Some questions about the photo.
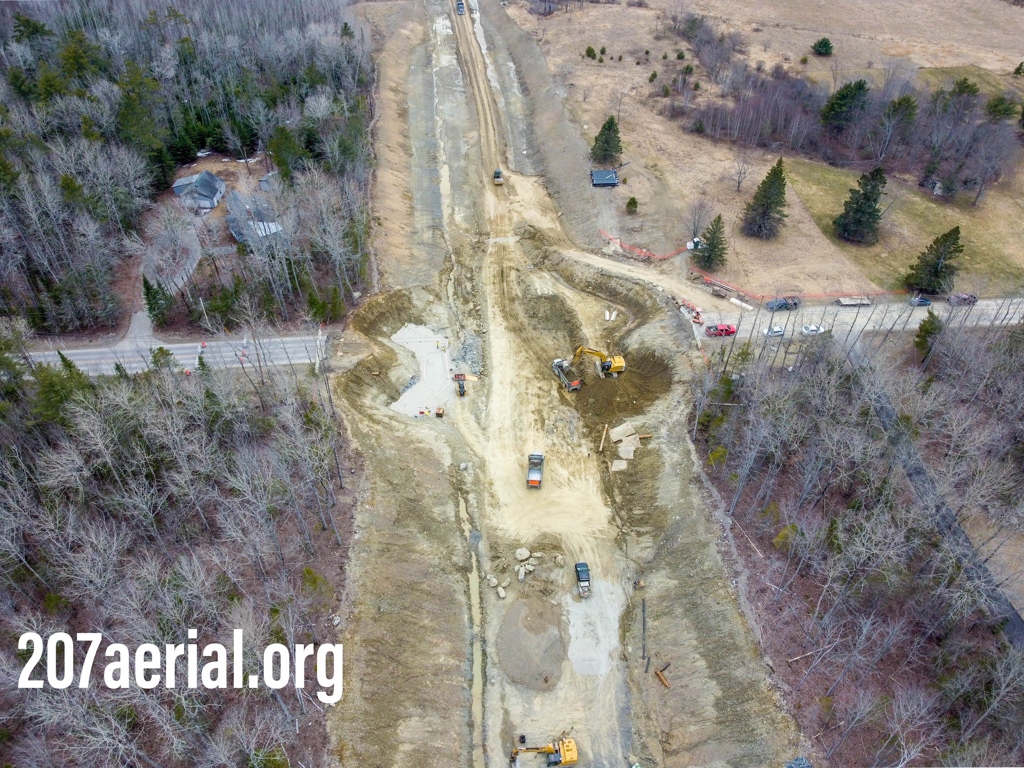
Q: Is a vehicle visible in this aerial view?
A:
Yes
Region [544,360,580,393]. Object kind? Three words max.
truck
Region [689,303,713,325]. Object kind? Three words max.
work vehicle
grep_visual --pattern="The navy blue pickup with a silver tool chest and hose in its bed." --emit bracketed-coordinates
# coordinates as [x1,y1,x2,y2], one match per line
[575,560,593,596]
